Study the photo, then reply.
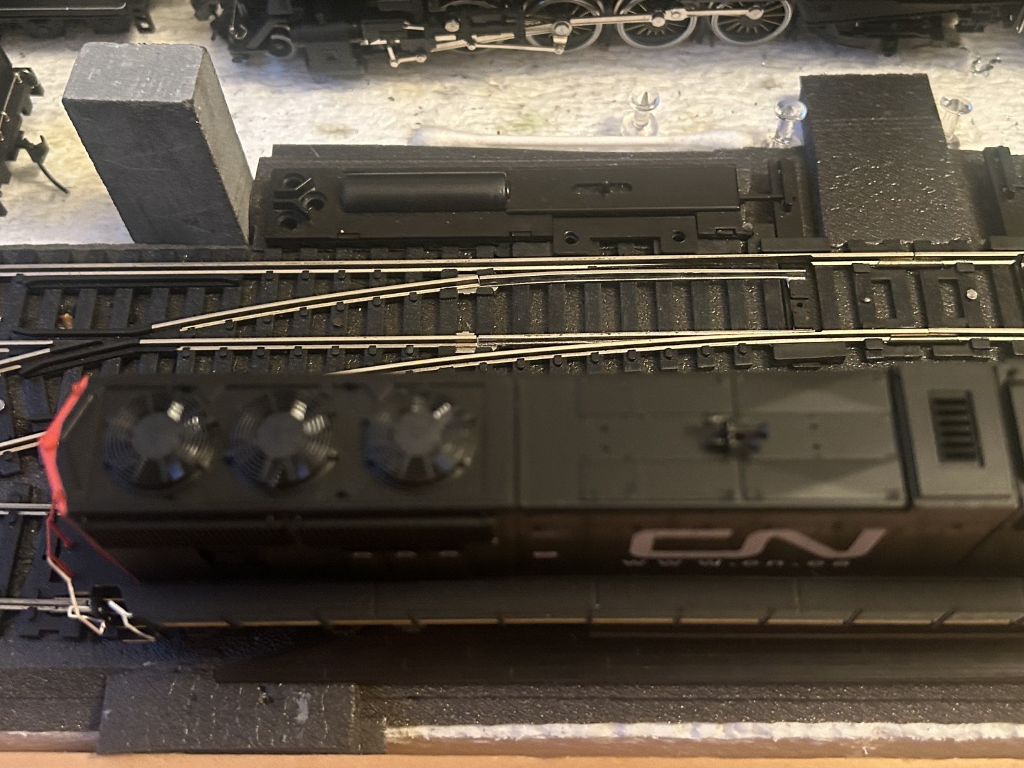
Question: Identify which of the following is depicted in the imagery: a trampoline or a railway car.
railway car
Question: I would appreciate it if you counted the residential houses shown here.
0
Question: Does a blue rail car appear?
No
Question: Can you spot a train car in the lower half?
Yes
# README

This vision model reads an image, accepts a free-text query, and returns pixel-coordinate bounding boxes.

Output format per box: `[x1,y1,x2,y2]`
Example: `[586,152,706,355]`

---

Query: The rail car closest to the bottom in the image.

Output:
[35,360,1024,659]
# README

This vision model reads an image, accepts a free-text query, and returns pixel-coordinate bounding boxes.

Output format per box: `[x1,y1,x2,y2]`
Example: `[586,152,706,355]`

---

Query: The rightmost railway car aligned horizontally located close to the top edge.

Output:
[175,0,990,86]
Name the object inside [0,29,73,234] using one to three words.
rail car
